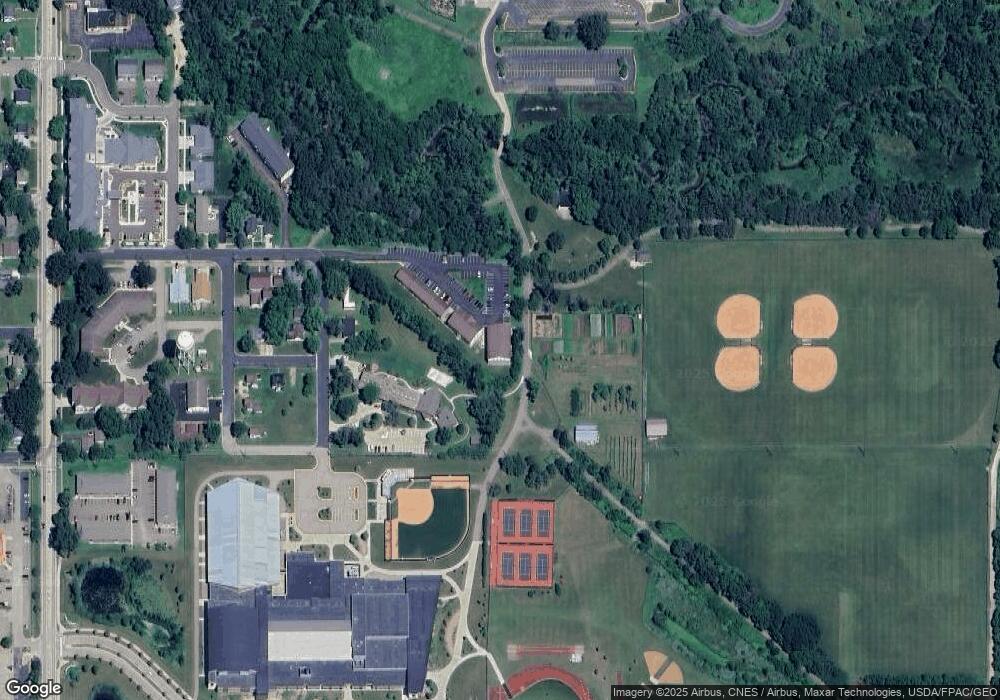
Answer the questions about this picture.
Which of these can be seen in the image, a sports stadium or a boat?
sports stadium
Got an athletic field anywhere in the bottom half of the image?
Yes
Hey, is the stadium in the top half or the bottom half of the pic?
bottom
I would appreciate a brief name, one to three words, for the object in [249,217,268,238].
house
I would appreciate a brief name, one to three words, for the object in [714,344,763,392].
baseball field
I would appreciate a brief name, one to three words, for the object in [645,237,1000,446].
sports field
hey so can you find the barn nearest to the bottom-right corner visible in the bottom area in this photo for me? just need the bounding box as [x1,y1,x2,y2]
[646,420,667,435]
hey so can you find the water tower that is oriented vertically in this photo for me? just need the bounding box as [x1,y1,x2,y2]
[173,334,196,380]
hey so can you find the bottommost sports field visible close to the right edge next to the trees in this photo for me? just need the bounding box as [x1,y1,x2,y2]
[645,447,989,676]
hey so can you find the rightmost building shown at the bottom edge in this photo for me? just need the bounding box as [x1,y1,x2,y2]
[207,477,441,699]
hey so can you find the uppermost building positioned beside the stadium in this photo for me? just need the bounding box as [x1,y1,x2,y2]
[361,372,457,427]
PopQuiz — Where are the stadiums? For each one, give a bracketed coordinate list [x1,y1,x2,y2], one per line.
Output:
[385,474,471,561]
